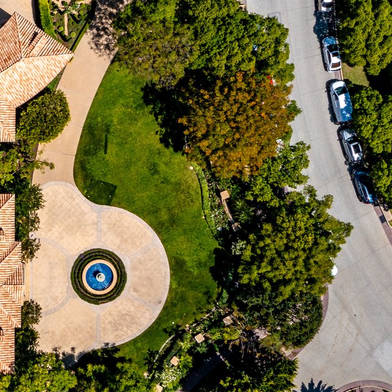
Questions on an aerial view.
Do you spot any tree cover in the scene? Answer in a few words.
Yes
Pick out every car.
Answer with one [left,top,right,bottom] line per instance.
[320,260,338,286]
[315,0,332,13]
[339,127,364,164]
[328,80,353,124]
[320,37,341,73]
[350,167,376,205]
